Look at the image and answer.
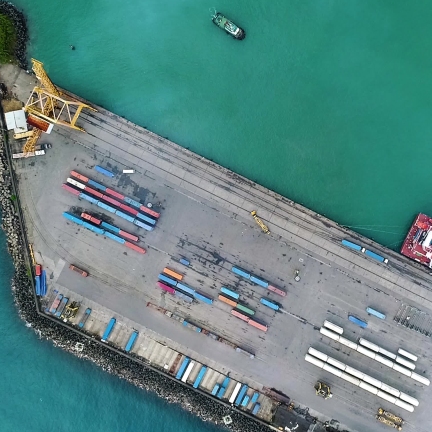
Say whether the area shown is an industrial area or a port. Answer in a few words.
port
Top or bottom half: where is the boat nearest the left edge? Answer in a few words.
top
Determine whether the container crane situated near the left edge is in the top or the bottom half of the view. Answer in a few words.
top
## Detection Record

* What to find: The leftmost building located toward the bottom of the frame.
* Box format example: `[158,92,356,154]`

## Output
[272,403,320,432]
